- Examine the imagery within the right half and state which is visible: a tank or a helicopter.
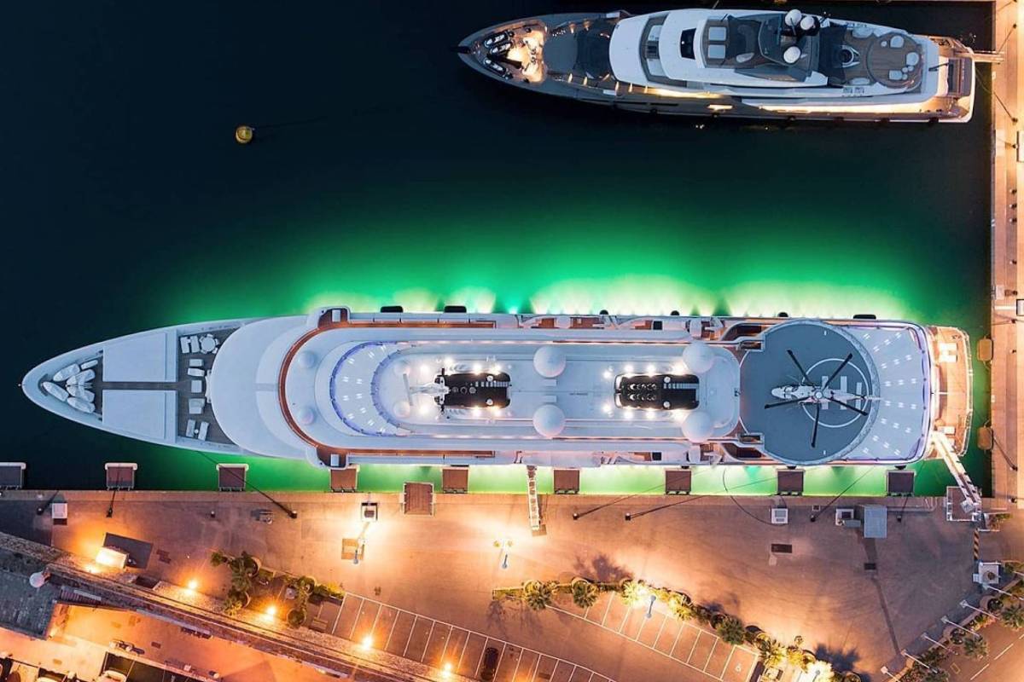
helicopter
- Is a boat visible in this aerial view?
Yes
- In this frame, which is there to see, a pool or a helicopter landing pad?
helicopter landing pad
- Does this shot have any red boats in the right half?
No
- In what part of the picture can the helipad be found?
right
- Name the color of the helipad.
blue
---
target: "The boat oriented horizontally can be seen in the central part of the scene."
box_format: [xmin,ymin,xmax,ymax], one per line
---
[17,306,972,478]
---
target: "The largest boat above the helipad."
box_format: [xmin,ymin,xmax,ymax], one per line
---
[451,4,975,126]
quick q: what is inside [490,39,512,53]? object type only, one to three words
boat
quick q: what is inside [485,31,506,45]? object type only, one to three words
boat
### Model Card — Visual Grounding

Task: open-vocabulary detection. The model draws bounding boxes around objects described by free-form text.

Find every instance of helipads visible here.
[734,318,884,466]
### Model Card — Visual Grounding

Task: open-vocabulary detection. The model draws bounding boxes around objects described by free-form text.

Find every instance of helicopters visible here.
[765,351,896,447]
